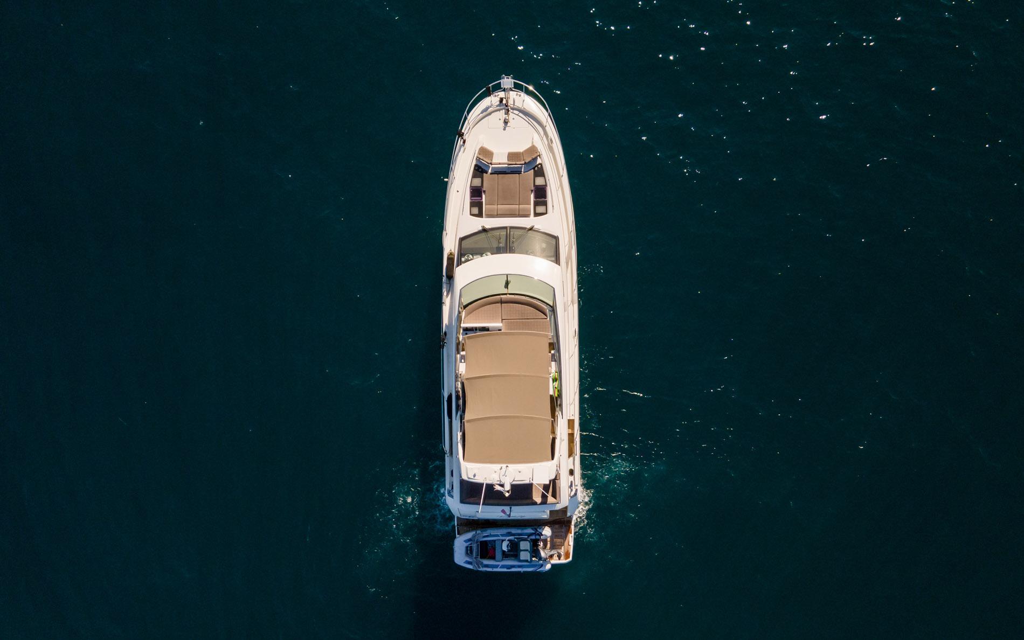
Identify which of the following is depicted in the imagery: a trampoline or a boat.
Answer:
boat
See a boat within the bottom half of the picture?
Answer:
Yes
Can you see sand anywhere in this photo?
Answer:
No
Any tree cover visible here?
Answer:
No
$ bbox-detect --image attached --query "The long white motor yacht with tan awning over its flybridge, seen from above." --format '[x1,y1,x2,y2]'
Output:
[440,79,581,564]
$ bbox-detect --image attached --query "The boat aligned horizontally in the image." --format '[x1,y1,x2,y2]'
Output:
[453,527,564,572]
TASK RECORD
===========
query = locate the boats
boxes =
[453,527,564,572]
[440,79,581,564]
